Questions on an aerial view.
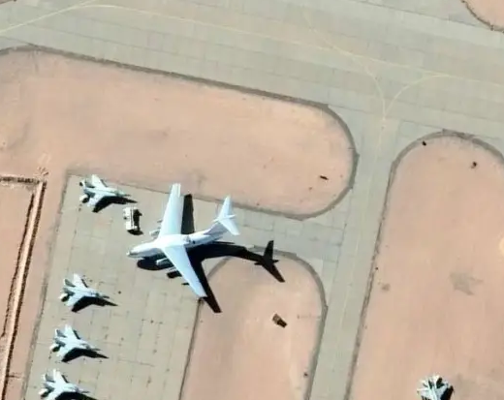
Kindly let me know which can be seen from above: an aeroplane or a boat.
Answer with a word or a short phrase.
aeroplane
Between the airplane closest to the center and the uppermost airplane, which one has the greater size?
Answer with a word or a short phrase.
the airplane closest to the center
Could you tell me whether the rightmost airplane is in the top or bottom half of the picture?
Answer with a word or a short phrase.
bottom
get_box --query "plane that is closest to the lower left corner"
[40,367,87,400]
